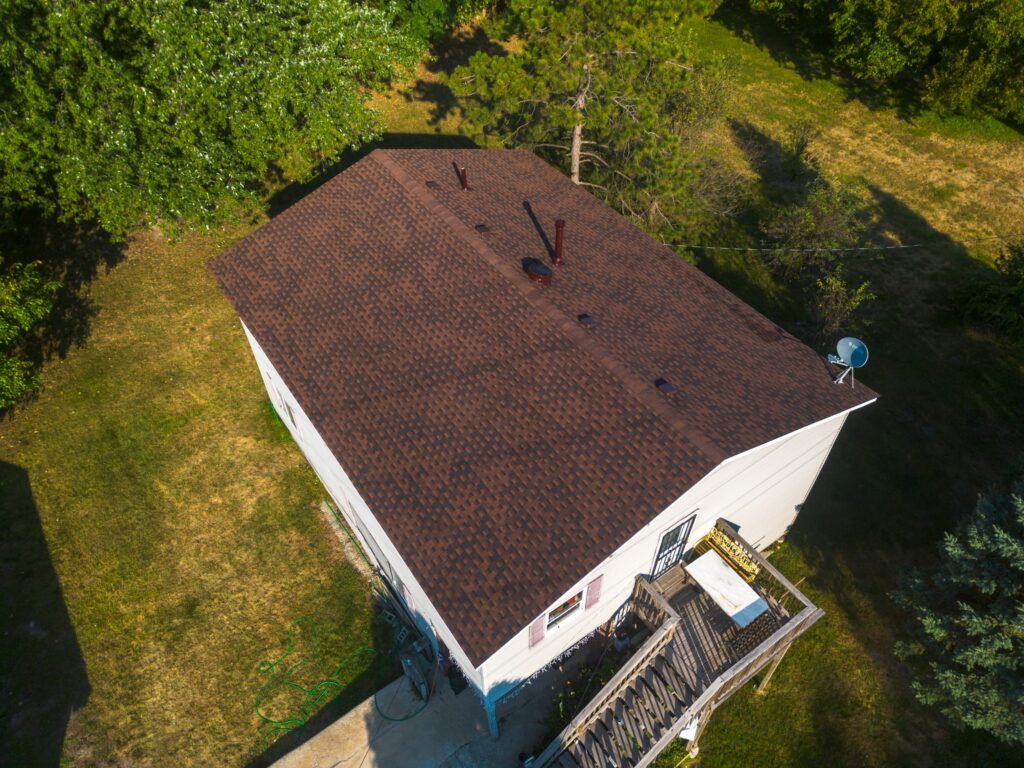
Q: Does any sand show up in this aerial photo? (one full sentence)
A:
No, sand can't be seen anywhere here.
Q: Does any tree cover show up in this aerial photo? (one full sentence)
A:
Yes, there is tree cover in the image.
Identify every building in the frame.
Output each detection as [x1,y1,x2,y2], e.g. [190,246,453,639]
[209,148,876,742]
